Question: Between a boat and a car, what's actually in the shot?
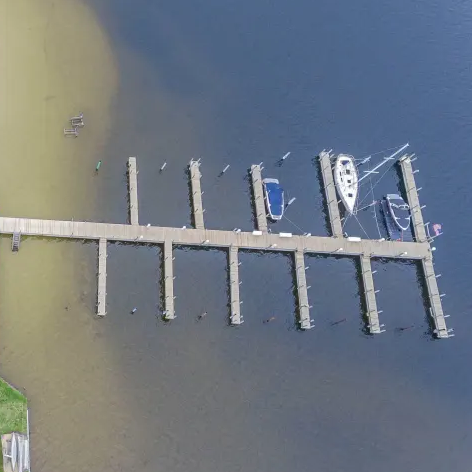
boat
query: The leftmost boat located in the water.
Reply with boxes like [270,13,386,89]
[262,178,284,221]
